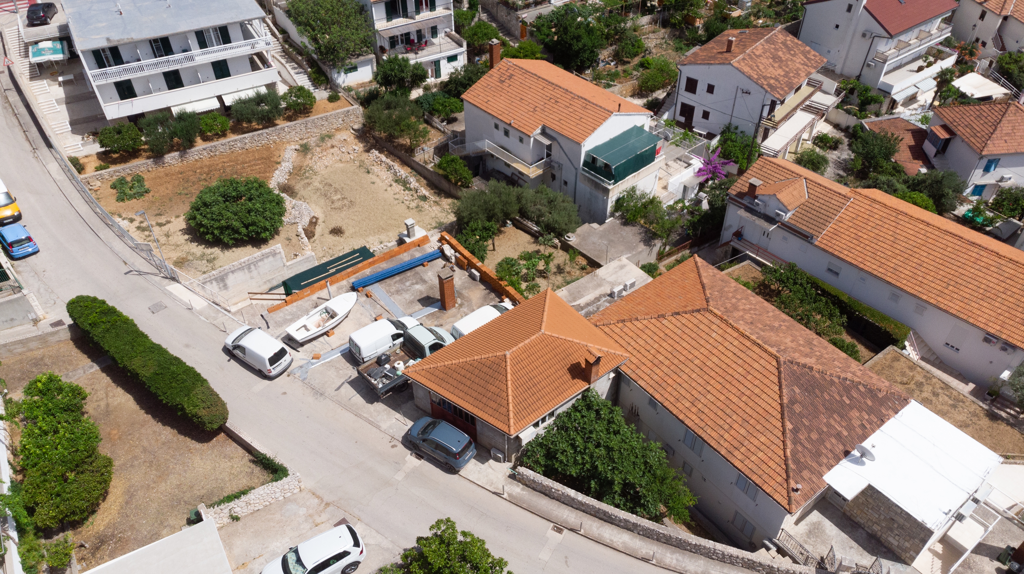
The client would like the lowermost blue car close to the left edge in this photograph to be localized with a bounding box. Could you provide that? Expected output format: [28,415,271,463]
[0,217,39,257]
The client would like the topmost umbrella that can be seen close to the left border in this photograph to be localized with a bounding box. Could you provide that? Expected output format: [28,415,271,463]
[30,41,69,61]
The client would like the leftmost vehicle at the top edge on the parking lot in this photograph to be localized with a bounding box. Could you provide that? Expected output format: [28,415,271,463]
[24,0,60,24]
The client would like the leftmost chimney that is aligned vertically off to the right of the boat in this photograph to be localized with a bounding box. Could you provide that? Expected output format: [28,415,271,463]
[436,272,455,314]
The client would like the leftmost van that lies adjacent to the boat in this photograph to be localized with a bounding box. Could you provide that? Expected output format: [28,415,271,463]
[219,322,295,379]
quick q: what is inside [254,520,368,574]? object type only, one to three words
car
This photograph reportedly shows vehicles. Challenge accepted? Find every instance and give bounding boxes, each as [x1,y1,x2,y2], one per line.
[24,0,60,24]
[254,520,368,574]
[454,304,513,340]
[405,414,482,476]
[219,322,295,379]
[357,326,454,396]
[0,217,39,257]
[0,165,22,217]
[348,312,428,363]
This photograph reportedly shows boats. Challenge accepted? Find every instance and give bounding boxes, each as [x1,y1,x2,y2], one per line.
[285,293,359,346]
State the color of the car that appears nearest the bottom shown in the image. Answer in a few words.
white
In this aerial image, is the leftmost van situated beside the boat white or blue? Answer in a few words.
white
